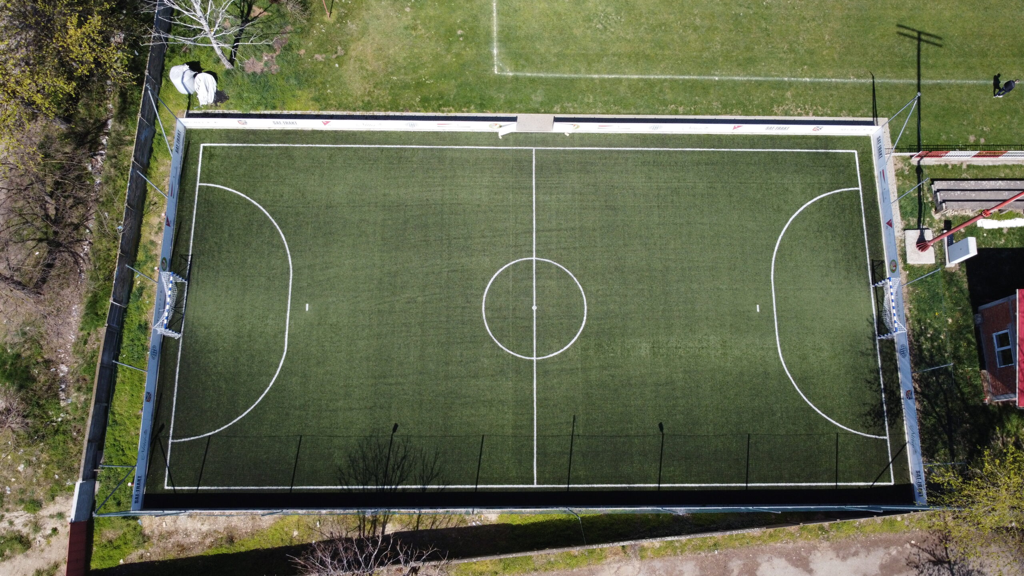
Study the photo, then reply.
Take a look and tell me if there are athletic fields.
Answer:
Yes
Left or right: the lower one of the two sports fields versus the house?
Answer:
on its left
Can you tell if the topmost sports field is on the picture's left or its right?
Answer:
right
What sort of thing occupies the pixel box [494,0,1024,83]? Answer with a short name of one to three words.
sports field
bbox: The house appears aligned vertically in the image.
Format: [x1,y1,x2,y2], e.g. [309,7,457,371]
[971,285,1024,407]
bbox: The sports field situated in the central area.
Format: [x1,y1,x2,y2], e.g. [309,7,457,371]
[144,129,916,508]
